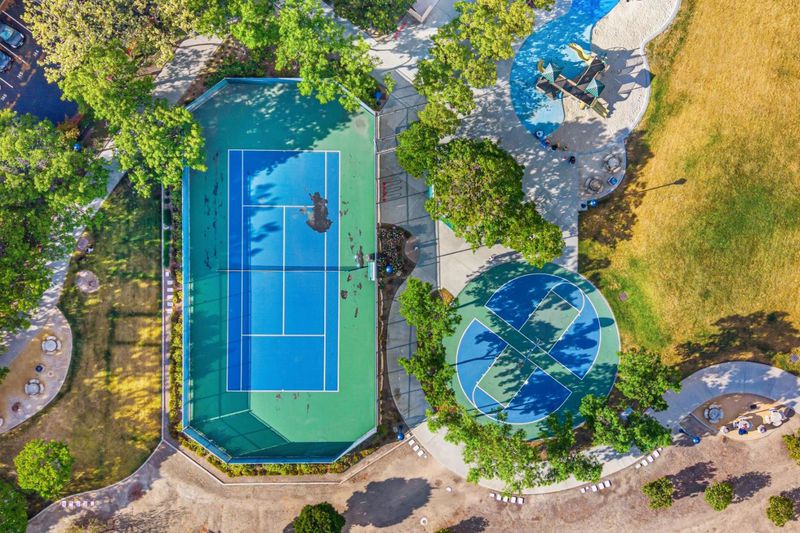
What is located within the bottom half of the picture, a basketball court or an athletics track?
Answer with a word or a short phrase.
basketball court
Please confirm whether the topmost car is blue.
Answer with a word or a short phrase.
Yes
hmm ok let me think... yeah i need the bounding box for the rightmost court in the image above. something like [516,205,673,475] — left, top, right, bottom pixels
[443,259,622,442]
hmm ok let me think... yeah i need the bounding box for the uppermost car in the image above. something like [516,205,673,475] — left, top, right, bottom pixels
[0,14,24,46]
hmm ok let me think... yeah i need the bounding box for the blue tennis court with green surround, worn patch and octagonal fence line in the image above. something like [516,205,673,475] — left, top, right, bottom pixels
[189,83,376,457]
